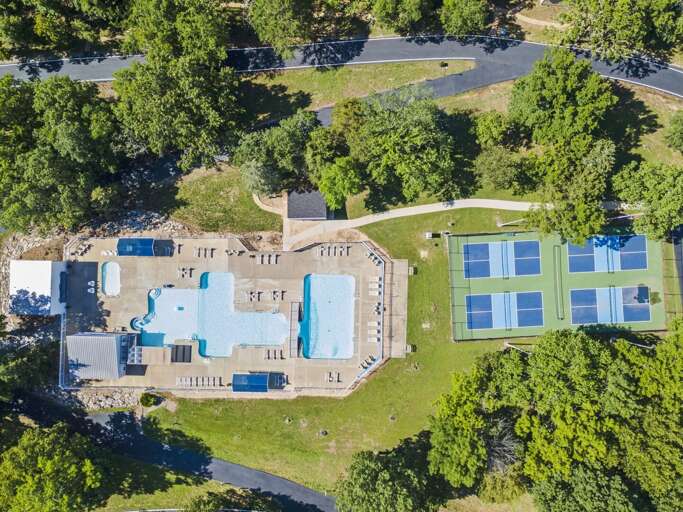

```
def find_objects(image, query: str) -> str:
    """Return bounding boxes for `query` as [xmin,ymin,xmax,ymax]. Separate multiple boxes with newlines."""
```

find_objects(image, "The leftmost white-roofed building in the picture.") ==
[11,261,66,315]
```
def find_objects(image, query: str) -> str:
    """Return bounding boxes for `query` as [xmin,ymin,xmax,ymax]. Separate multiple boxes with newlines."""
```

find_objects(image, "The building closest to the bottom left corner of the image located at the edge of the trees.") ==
[67,331,129,378]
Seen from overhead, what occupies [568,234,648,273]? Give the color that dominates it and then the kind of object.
blue sports court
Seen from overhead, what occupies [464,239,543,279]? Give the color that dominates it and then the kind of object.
blue sports court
